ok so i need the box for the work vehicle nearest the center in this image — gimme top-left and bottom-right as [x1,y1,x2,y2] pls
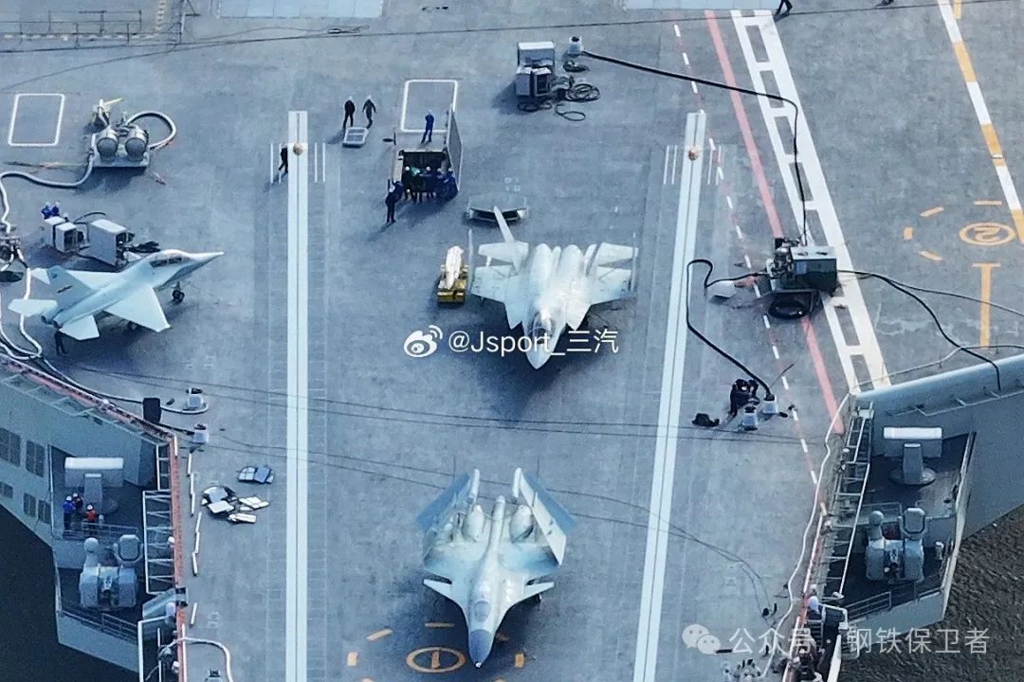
[466,193,527,219]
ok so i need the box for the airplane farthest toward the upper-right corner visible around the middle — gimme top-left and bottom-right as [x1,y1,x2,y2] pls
[466,204,637,369]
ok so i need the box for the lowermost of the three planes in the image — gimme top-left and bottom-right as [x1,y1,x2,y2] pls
[418,466,578,669]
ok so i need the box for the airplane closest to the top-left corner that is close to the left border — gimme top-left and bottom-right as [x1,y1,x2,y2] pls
[5,254,223,341]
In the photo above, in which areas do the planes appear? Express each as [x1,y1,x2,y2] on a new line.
[418,466,578,669]
[5,254,223,341]
[466,204,637,369]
